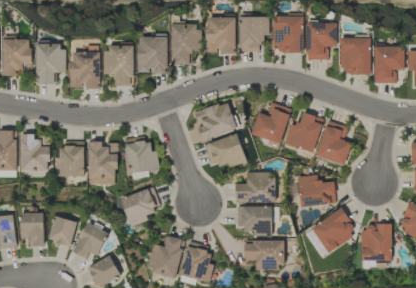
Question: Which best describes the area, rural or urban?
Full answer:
This place is urban.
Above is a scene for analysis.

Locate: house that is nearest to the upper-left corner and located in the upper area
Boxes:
[1,34,32,76]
